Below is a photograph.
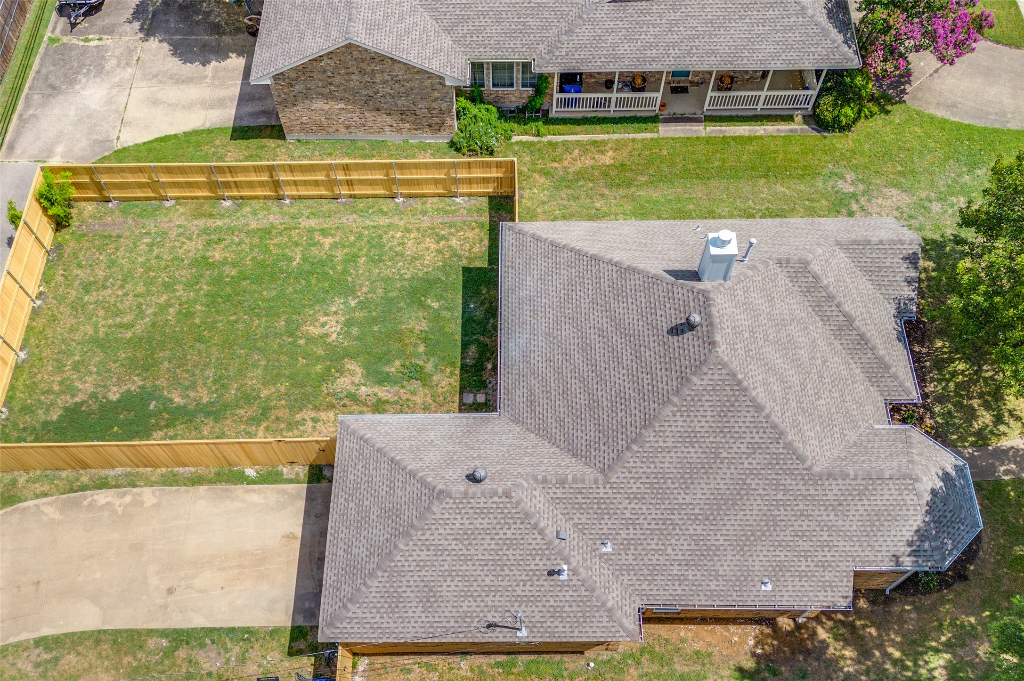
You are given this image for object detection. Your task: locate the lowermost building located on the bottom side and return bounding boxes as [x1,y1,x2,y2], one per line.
[316,217,983,654]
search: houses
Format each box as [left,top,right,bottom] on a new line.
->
[316,217,983,654]
[250,0,863,140]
